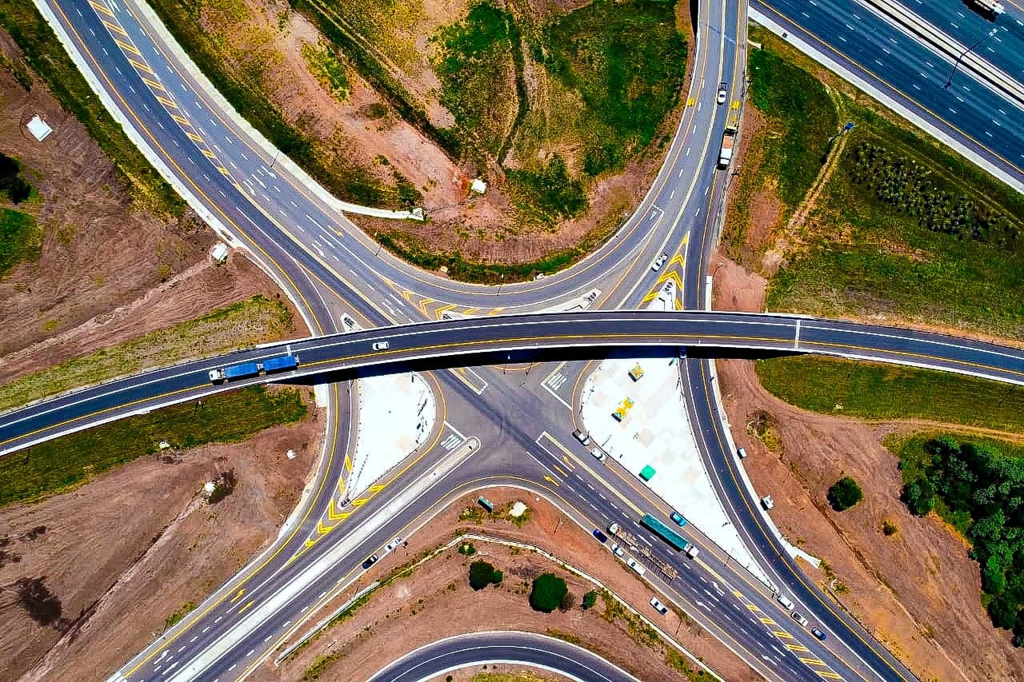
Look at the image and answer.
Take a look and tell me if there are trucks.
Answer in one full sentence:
Yes, a truck can be made out from above.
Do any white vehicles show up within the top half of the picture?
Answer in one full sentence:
Yes, you'll find a white vehicle within the top half of the picture.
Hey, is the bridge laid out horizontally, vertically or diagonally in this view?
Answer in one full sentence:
What the image shows is the bridge lying horizontally.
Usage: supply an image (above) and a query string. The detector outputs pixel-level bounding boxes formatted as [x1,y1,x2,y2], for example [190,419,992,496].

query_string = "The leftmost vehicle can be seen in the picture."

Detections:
[210,355,301,381]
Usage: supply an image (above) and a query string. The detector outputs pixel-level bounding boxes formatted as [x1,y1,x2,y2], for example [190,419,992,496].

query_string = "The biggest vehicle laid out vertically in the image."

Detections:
[719,126,738,167]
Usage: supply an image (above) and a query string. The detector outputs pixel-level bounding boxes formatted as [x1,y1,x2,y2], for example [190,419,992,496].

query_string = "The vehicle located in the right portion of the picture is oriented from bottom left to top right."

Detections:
[652,252,668,271]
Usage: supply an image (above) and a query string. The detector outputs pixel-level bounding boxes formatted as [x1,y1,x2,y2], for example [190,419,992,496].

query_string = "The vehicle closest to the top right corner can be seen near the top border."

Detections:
[962,0,1004,20]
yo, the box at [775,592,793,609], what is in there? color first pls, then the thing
white vehicle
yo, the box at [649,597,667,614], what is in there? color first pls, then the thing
white vehicle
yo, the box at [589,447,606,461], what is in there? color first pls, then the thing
white car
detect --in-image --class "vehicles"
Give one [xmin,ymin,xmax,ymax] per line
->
[609,543,626,558]
[383,536,403,551]
[210,355,301,381]
[789,609,808,626]
[775,592,793,609]
[641,510,702,559]
[809,626,825,639]
[669,510,687,526]
[591,528,607,543]
[649,597,667,614]
[678,345,686,361]
[607,522,678,581]
[652,252,668,271]
[570,428,589,445]
[589,447,606,461]
[626,557,646,575]
[719,126,738,167]
[962,0,1004,20]
[716,83,726,105]
[362,553,379,568]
